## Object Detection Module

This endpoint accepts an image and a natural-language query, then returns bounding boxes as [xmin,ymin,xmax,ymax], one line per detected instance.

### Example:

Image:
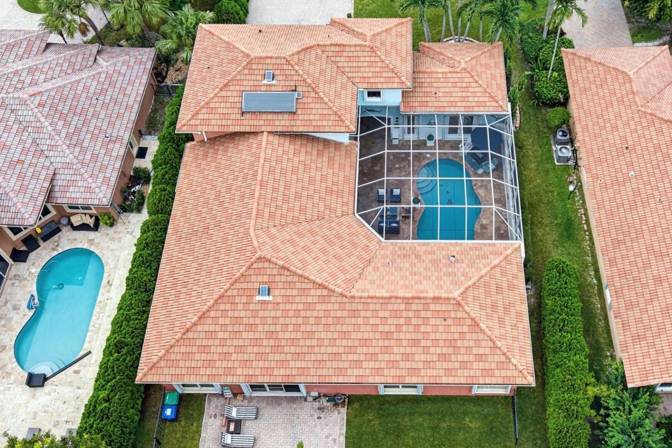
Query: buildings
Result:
[133,15,536,396]
[0,28,157,307]
[560,43,672,391]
